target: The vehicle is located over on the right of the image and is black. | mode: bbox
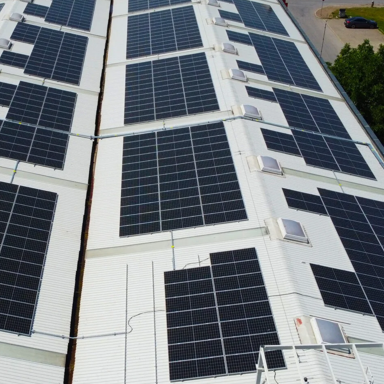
[344,16,379,29]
